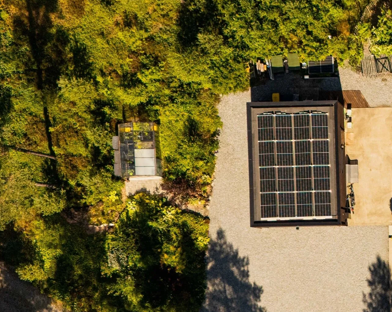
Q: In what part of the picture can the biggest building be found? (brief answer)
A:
right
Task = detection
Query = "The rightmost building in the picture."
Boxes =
[247,100,349,229]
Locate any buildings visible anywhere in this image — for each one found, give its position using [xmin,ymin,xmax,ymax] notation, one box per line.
[247,100,349,229]
[117,117,163,174]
